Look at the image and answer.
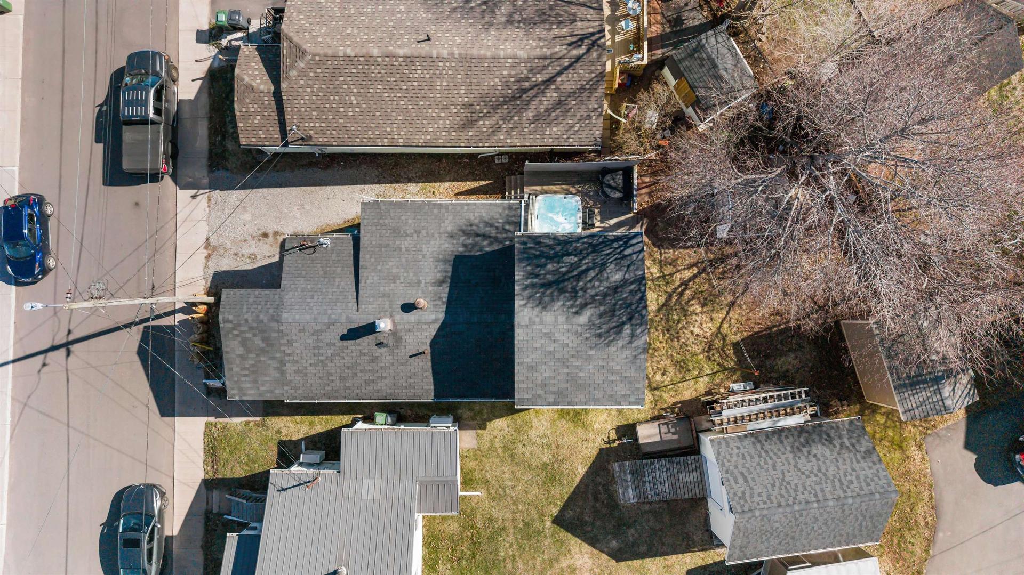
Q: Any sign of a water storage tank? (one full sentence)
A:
No, there isn't any water storage tank down there.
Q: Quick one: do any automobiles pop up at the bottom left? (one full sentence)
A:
Yes, an automobile appears at the bottom left.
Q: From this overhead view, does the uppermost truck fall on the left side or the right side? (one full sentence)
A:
It is on the left.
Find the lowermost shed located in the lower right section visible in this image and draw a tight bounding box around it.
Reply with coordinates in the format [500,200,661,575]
[701,414,900,566]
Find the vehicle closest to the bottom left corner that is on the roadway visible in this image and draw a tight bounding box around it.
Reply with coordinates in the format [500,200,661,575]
[117,482,174,575]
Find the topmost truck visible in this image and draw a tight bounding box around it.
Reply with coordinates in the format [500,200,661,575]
[118,52,180,179]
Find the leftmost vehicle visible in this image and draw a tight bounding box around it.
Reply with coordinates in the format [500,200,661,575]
[0,191,60,279]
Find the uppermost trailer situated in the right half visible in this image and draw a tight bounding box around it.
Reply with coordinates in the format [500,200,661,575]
[609,412,704,454]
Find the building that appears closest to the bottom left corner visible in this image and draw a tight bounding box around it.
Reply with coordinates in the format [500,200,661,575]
[216,421,481,575]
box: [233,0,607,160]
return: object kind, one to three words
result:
house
